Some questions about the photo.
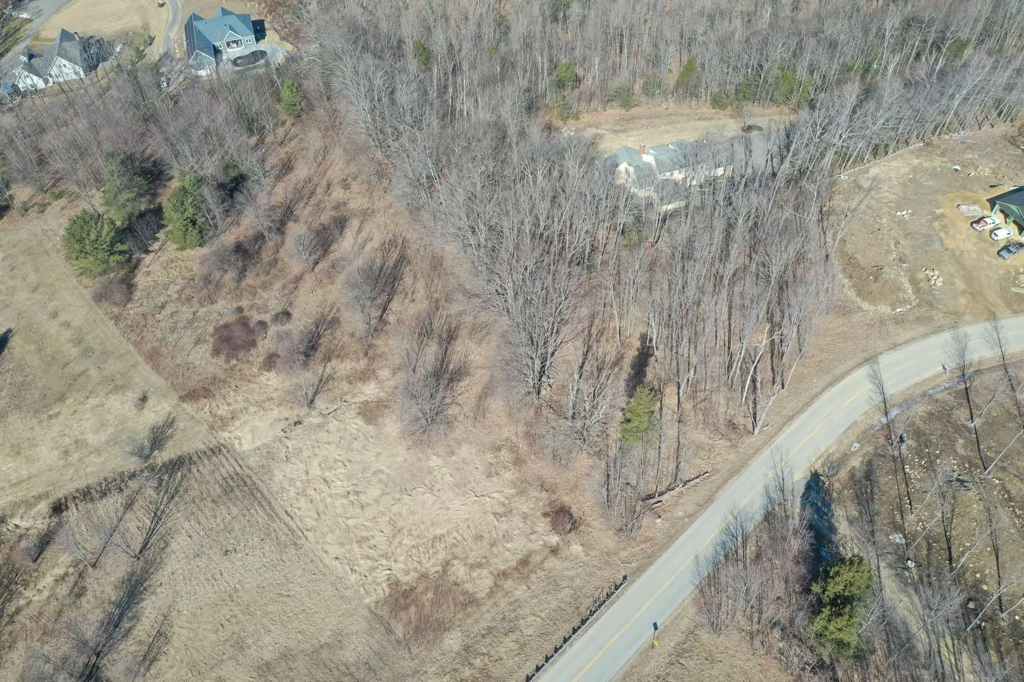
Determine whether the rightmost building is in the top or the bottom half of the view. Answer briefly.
top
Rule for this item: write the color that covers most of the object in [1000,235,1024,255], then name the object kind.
gray vehicle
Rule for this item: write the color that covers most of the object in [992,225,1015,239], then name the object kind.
white car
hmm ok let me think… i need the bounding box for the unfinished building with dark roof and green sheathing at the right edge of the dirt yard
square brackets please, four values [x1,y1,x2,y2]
[992,190,1024,237]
